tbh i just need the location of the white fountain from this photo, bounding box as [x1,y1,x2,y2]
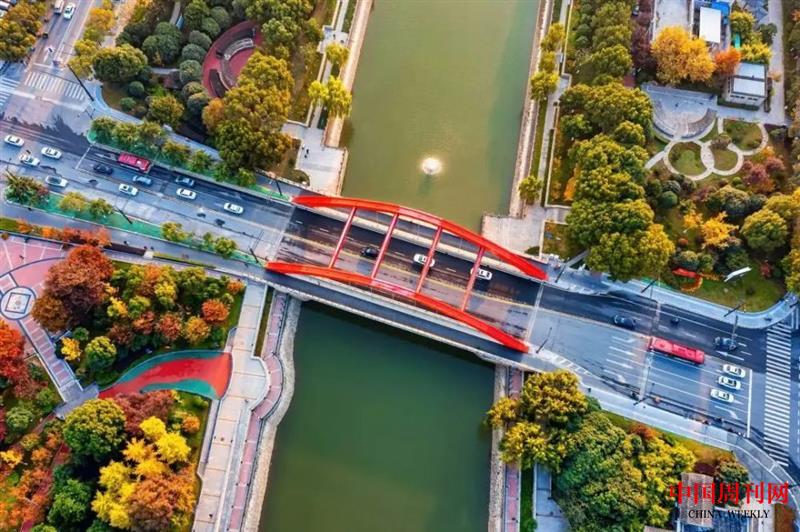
[417,155,448,177]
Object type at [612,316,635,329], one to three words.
vehicle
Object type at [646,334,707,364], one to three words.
bus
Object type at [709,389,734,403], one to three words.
car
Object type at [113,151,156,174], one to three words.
bus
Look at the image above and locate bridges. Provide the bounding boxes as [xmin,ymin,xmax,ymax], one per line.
[248,182,559,368]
